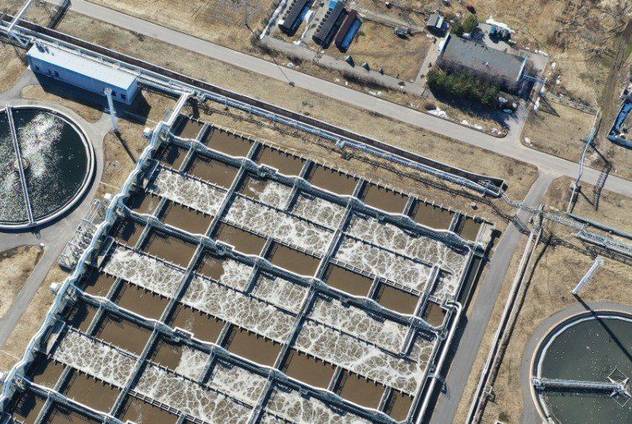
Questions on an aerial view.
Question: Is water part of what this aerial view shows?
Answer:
Yes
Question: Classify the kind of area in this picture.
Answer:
industrial area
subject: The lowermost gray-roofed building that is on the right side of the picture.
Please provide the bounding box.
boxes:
[437,36,550,93]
